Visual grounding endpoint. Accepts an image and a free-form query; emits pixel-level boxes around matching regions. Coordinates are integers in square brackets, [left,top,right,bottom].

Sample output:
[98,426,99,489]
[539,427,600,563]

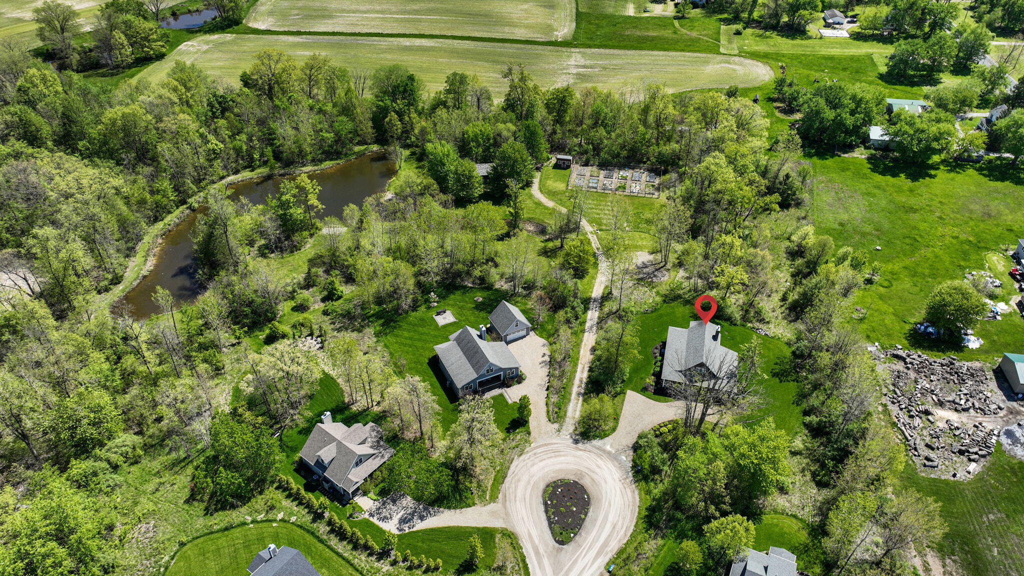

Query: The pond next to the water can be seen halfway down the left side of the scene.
[107,150,397,319]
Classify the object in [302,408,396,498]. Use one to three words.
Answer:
house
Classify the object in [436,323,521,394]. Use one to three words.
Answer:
house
